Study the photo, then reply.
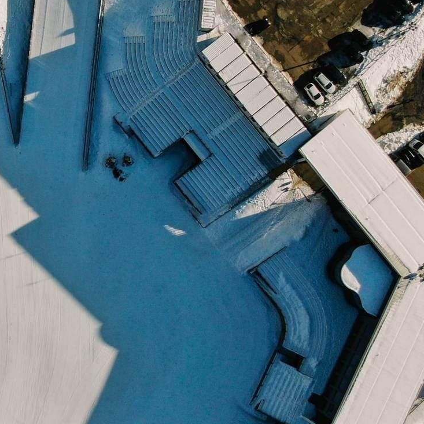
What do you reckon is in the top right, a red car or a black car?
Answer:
black car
